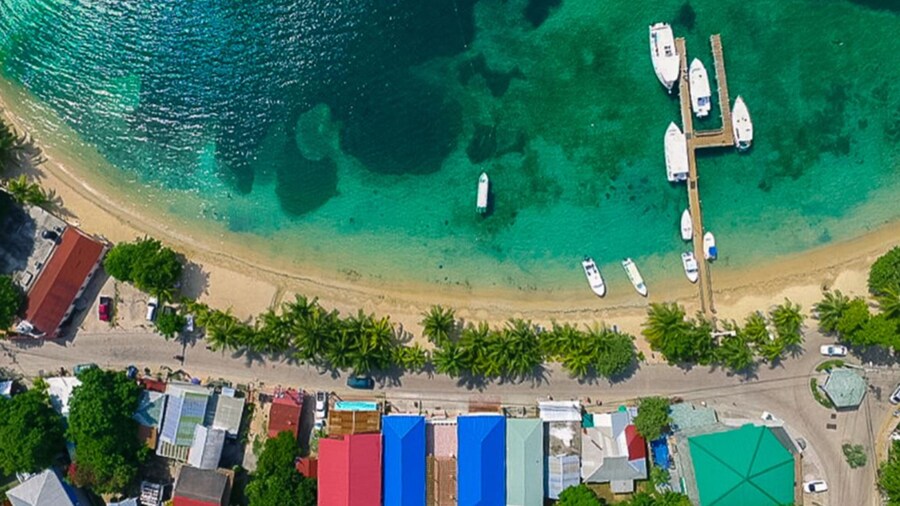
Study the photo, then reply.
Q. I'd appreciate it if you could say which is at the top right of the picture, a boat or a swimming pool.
boat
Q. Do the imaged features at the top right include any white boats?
Yes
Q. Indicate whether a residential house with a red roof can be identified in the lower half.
Yes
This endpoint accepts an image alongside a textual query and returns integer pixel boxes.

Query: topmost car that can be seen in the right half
[817,343,846,357]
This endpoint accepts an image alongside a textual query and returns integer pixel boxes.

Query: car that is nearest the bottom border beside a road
[802,478,829,494]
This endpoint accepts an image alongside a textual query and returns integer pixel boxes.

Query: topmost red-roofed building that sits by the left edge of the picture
[19,227,106,338]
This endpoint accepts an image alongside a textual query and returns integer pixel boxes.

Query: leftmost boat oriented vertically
[476,174,489,215]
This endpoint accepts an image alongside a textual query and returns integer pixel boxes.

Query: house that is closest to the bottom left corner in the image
[5,464,87,506]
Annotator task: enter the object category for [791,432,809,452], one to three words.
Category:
car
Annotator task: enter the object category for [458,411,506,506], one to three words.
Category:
house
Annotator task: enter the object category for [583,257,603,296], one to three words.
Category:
boat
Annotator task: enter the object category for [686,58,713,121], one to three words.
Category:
boat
